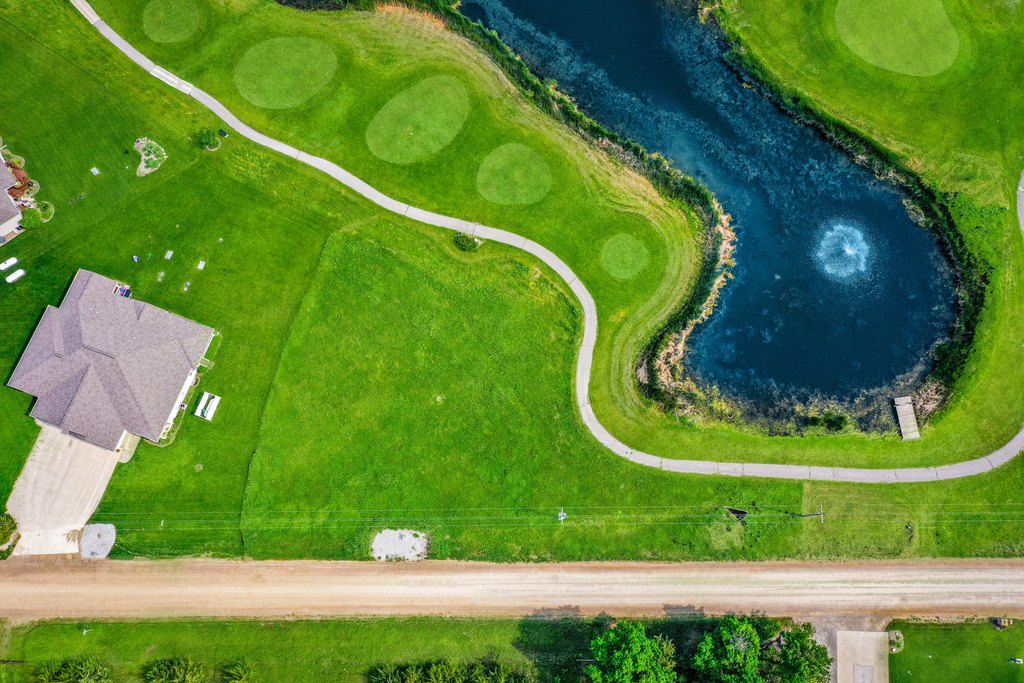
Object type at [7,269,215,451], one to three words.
house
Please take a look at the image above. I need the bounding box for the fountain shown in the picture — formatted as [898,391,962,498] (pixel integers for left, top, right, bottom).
[797,213,889,285]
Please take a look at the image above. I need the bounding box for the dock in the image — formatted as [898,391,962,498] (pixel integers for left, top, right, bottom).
[892,397,918,438]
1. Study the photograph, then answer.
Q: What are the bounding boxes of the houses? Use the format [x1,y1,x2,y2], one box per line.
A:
[7,269,215,451]
[0,156,30,238]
